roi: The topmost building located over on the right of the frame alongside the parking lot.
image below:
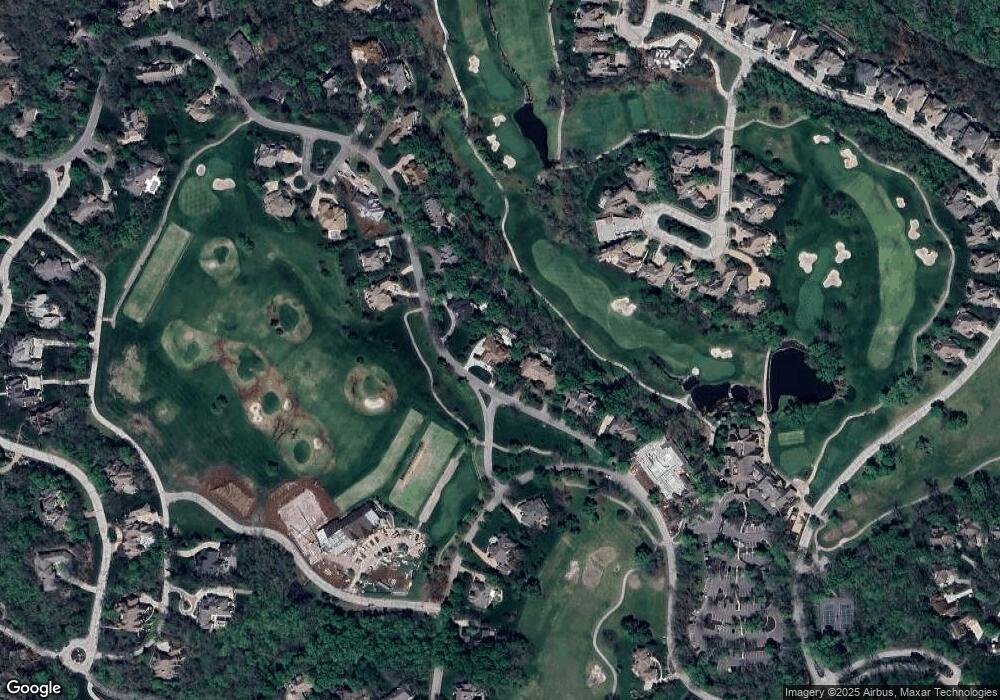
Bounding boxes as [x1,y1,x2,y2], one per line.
[721,427,798,513]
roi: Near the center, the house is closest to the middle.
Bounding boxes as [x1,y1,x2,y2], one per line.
[479,334,507,366]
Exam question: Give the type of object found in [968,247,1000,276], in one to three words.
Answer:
house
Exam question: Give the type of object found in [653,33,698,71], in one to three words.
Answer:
house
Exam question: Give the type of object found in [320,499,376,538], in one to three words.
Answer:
building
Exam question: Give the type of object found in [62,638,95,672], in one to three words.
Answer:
roundabout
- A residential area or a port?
residential area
